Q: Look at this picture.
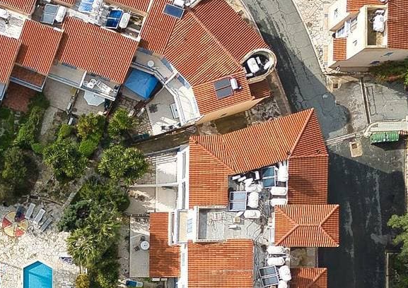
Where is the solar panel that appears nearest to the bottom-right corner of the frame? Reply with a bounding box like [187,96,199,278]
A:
[255,266,278,287]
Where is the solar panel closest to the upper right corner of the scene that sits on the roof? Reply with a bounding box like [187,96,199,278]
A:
[211,76,232,100]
